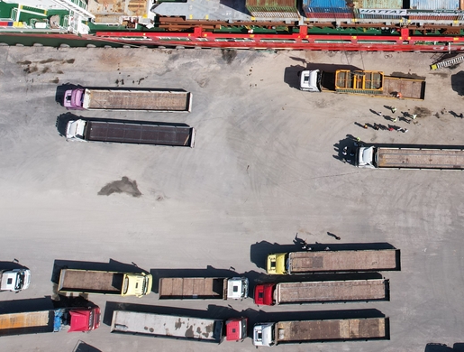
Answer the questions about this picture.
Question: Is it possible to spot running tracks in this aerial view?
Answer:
No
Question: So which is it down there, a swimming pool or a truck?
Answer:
truck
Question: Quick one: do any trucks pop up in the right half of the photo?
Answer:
Yes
